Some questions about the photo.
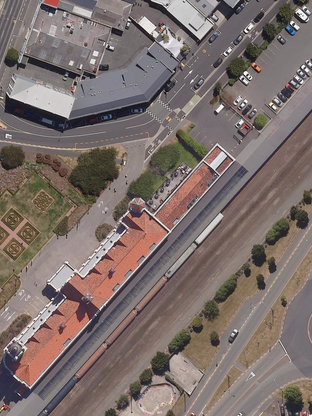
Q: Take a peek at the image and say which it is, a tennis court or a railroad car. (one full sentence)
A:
Visible in the photo is a railroad car.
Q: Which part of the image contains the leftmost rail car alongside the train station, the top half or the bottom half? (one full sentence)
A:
The leftmost rail car alongside the train station sits in the bottom half of the picture.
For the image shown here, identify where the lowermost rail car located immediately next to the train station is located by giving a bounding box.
[45,376,76,412]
